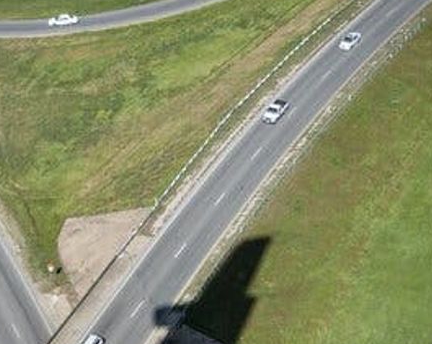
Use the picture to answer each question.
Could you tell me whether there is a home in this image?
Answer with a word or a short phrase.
No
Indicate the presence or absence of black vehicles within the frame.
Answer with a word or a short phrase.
No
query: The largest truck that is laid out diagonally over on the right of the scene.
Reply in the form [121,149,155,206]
[260,97,291,127]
